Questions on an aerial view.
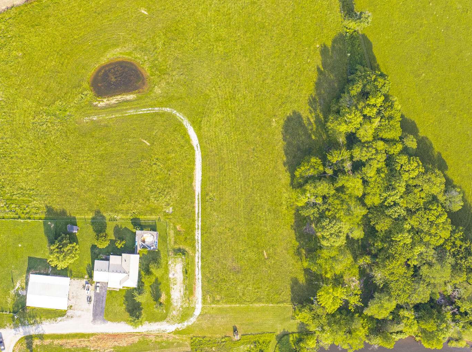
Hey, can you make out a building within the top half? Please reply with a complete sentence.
No, no building is visible within the top half.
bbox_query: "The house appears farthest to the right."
[93,254,141,292]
